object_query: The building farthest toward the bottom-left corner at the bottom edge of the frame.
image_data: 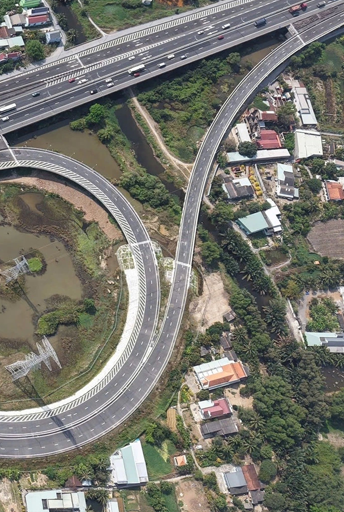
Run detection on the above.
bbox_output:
[24,493,48,512]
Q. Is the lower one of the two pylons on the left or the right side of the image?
left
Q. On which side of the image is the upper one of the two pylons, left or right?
left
